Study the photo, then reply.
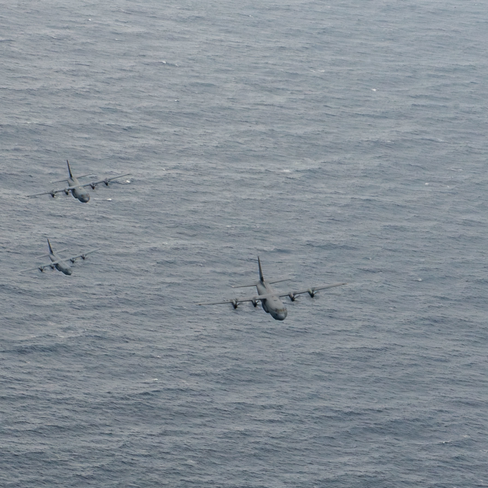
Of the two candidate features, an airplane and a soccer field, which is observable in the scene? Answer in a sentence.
Of the two, only an airplane appears.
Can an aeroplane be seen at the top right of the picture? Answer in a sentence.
No, I can find no aeroplane at the top right of the picture.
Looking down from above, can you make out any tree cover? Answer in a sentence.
No, no tree cover is visible.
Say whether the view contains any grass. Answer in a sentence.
No, the scene doesn't show any grass.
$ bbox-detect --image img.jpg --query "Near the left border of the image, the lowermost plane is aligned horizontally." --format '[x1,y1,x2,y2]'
[18,238,101,274]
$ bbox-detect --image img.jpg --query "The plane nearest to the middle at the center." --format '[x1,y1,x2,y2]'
[194,255,347,320]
